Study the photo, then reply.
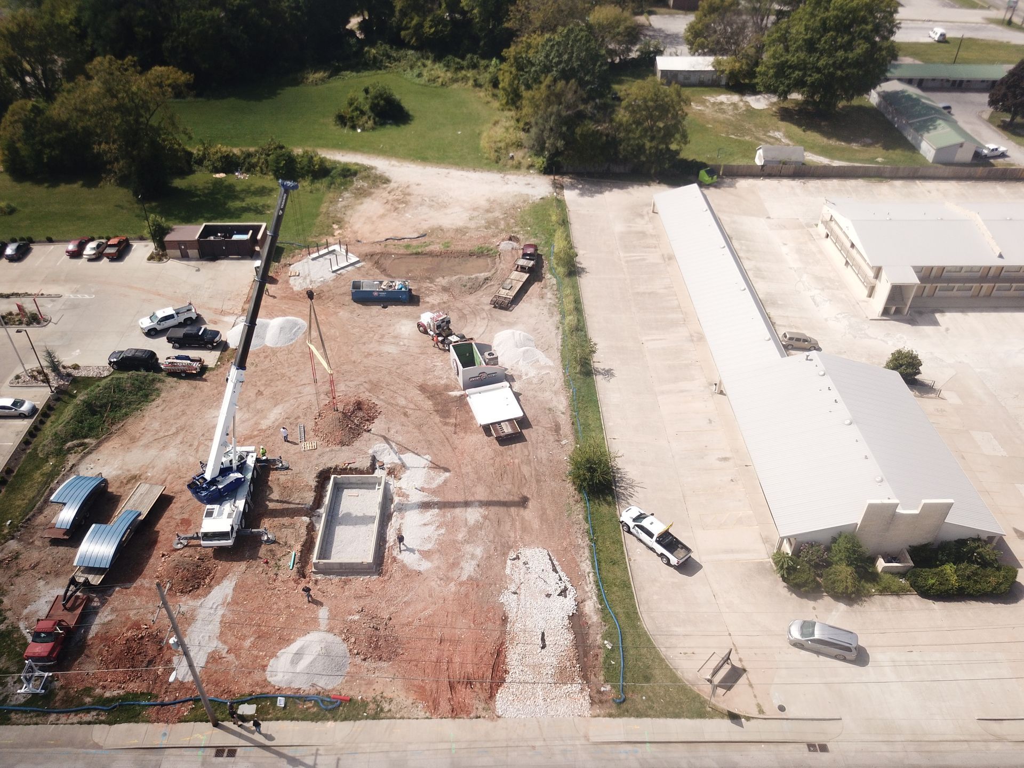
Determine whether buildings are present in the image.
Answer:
Yes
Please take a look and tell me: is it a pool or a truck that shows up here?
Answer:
truck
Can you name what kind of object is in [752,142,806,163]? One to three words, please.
shed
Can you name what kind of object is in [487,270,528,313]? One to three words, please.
trailer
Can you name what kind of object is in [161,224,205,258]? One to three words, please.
building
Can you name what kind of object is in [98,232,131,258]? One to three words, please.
truck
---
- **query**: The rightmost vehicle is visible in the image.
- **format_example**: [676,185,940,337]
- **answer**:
[977,141,1009,158]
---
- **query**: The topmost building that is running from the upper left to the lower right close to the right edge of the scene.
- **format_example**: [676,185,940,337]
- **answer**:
[861,76,984,163]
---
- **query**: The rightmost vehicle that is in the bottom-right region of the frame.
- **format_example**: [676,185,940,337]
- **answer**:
[786,616,862,661]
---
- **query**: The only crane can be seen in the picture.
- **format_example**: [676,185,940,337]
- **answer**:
[171,182,313,551]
